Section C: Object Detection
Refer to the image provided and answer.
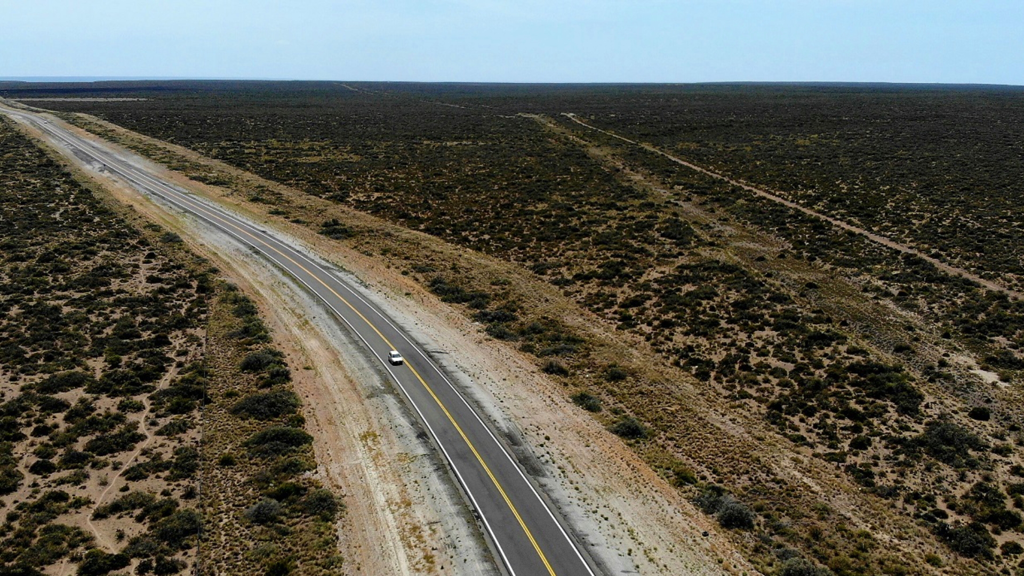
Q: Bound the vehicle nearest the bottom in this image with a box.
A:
[389,350,403,365]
